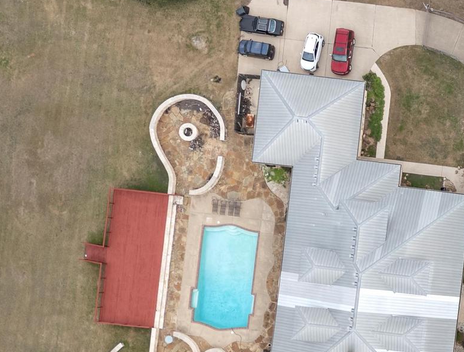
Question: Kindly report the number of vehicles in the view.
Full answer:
I count 4 vehicles.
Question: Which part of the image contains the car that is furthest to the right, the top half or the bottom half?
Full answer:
The car that is furthest to the right is in the top half of the image.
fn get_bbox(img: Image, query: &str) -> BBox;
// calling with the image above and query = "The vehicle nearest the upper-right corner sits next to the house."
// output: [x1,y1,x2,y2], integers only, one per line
[331,28,356,77]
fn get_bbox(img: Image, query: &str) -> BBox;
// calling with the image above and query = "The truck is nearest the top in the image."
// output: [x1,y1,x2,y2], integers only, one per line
[238,16,287,38]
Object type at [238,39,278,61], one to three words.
car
